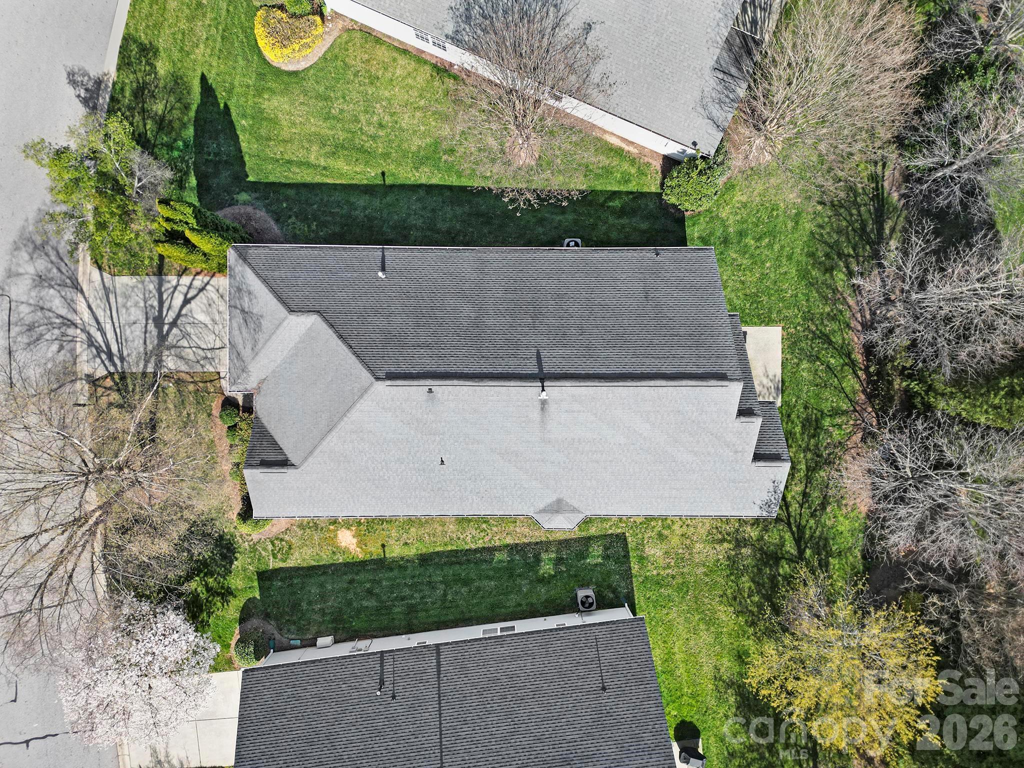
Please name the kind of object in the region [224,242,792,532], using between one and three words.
house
